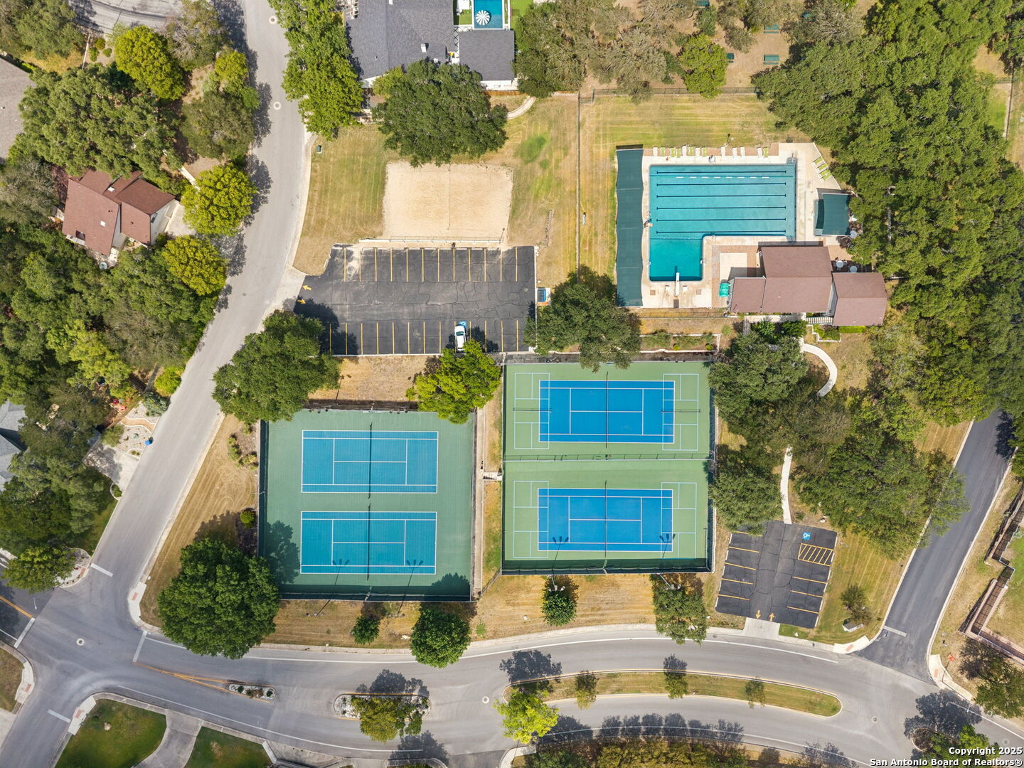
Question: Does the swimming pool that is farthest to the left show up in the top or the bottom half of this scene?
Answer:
top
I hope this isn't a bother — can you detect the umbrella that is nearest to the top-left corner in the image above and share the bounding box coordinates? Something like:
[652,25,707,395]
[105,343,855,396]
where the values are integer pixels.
[476,11,490,26]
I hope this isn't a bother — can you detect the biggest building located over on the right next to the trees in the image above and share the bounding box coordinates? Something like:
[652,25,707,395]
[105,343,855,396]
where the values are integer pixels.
[728,246,887,326]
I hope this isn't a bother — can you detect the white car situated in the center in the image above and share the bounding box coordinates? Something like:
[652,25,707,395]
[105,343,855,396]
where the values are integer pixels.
[454,325,467,351]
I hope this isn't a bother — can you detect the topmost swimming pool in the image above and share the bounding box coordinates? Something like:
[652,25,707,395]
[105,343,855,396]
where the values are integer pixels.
[472,0,505,30]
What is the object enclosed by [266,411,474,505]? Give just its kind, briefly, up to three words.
tennis court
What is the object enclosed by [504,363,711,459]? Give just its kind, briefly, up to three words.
tennis court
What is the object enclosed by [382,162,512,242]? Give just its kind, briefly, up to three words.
sports court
